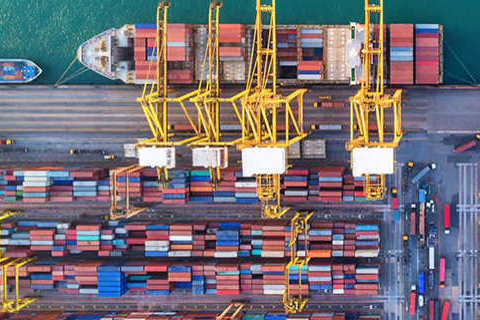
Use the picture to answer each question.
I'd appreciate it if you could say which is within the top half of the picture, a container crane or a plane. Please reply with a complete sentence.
Looking within the top half of the picture, you will find a container crane.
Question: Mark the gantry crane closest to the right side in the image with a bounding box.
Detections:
[346,0,409,200]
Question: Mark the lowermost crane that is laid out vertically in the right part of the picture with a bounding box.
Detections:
[286,256,311,320]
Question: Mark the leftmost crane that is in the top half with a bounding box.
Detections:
[136,4,207,192]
